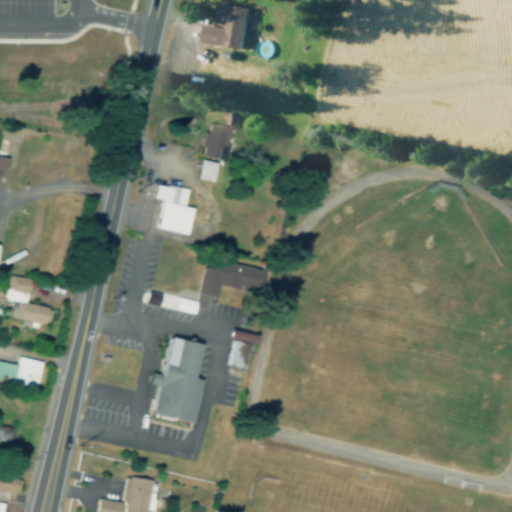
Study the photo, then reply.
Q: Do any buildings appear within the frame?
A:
Yes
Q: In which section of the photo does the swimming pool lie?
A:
top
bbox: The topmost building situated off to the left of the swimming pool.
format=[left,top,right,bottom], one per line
[199,8,248,49]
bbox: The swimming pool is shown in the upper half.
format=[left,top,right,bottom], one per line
[258,36,277,59]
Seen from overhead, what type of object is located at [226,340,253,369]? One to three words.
shed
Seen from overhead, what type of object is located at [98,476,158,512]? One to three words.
house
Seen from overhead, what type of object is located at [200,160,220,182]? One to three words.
building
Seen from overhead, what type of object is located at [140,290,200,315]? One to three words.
shed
